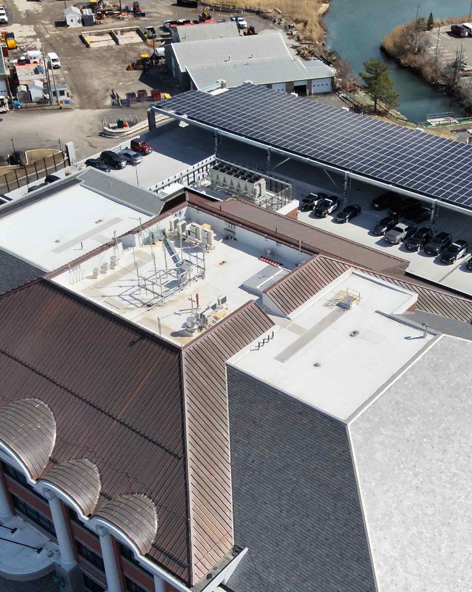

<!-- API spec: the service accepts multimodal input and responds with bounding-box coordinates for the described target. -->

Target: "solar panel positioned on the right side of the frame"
[156,82,472,204]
